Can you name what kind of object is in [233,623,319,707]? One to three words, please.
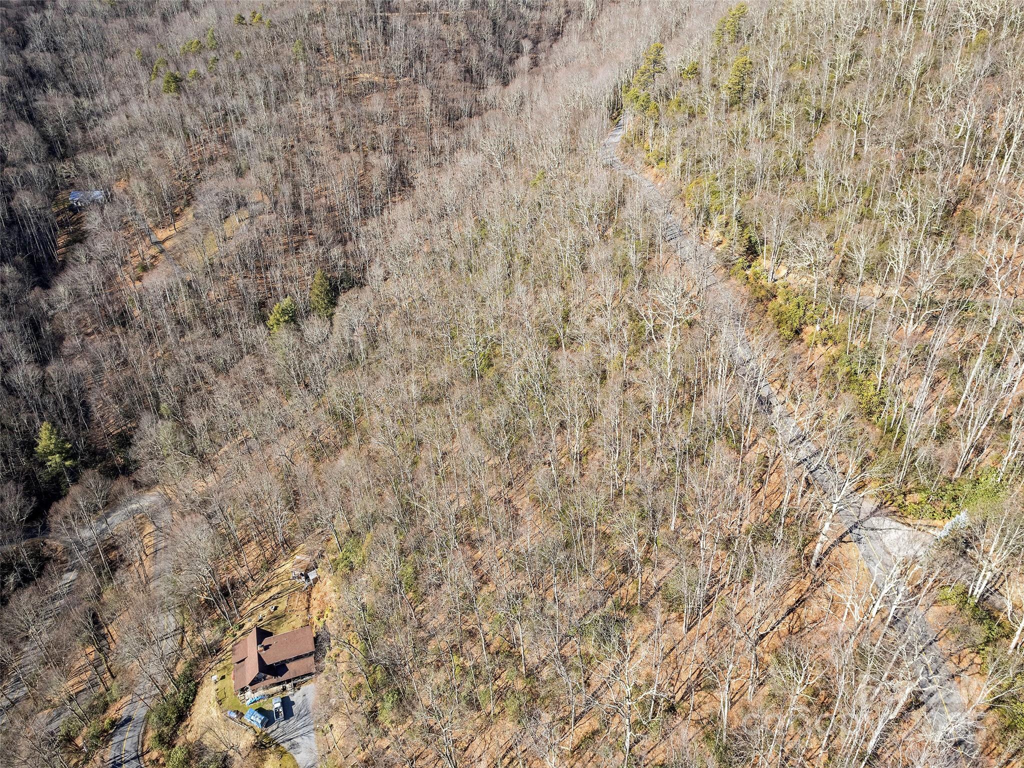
building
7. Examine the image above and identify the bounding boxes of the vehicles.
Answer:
[271,693,288,724]
[242,704,269,729]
